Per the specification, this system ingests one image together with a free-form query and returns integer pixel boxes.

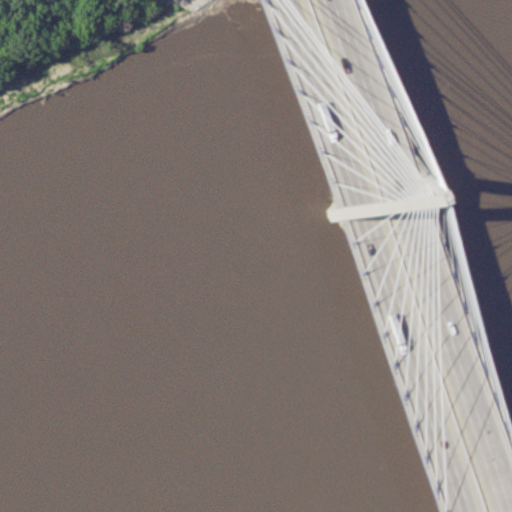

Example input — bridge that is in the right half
[262,0,512,512]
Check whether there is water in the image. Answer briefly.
Yes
